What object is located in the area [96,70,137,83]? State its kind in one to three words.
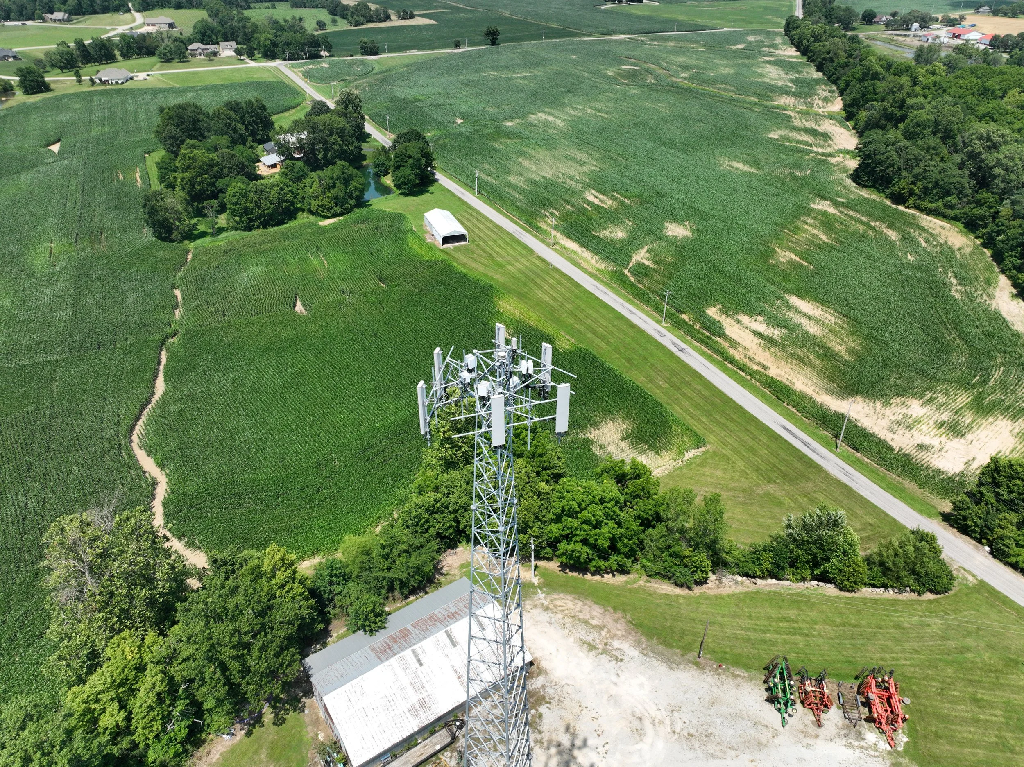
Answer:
house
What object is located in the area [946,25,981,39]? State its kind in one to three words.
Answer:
barn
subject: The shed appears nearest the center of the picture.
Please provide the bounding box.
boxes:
[423,209,469,247]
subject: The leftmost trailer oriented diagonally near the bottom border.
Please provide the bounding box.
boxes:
[396,720,466,767]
